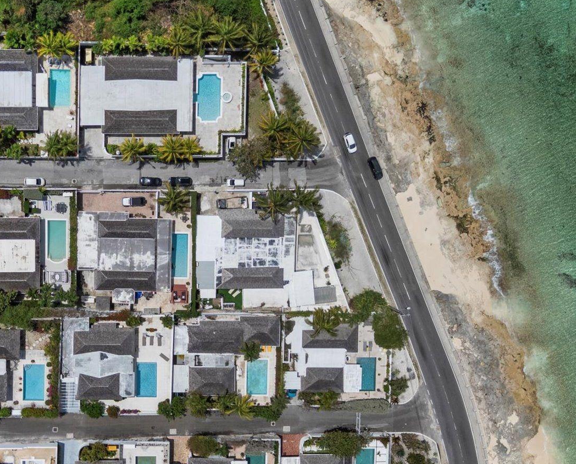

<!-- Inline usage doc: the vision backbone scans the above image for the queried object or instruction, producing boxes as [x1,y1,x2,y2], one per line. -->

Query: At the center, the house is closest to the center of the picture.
[195,209,315,309]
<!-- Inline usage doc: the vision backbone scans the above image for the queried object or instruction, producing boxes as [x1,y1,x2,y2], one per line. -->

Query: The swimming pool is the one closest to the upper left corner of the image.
[47,67,72,108]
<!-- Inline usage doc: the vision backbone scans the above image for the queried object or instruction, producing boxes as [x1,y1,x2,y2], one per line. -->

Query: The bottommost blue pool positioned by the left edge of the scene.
[22,363,46,402]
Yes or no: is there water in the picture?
Yes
